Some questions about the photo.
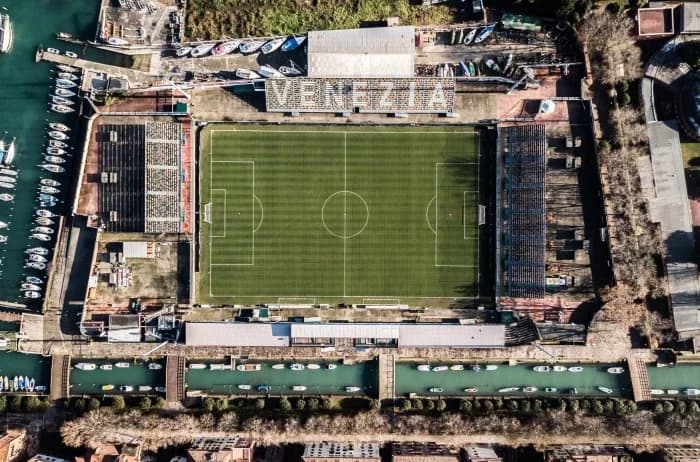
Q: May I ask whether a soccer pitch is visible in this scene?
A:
Yes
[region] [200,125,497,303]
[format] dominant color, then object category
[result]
green soccer field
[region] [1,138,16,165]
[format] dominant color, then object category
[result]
white boat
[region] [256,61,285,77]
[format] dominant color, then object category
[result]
white boat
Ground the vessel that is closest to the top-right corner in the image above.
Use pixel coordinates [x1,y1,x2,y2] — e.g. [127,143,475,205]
[500,13,542,33]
